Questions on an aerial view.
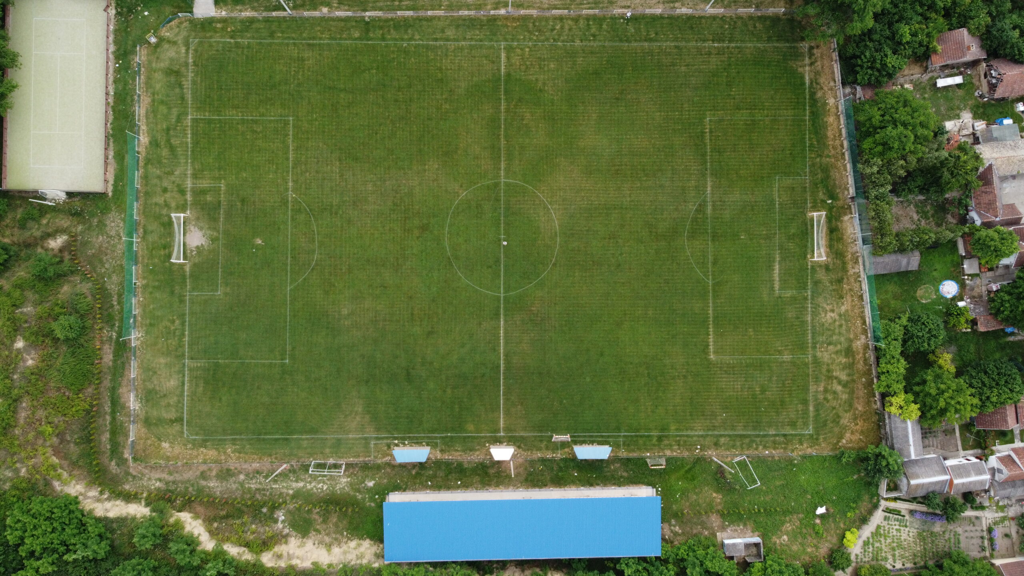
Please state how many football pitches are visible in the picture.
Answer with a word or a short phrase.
1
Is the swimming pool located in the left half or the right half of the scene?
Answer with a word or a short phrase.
right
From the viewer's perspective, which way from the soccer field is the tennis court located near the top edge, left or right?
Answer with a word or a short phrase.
to the left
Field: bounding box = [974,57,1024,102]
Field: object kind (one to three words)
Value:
house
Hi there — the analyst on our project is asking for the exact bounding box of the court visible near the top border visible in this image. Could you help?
[6,0,109,193]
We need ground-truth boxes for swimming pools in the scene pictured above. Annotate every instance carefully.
[939,279,962,299]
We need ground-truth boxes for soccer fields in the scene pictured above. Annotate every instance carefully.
[133,13,881,465]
